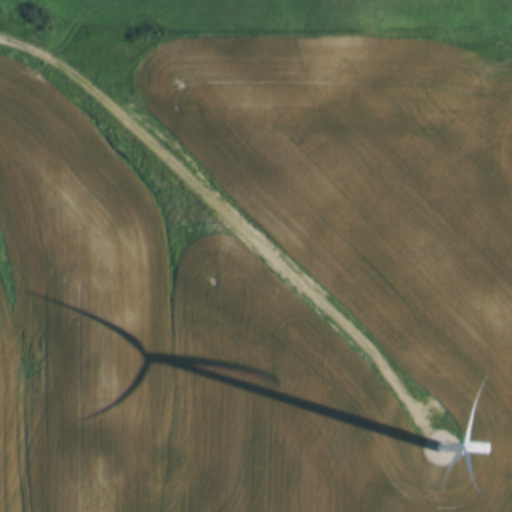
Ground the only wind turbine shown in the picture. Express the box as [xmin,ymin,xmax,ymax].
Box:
[436,384,490,502]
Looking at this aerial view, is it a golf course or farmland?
farmland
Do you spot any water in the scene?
No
